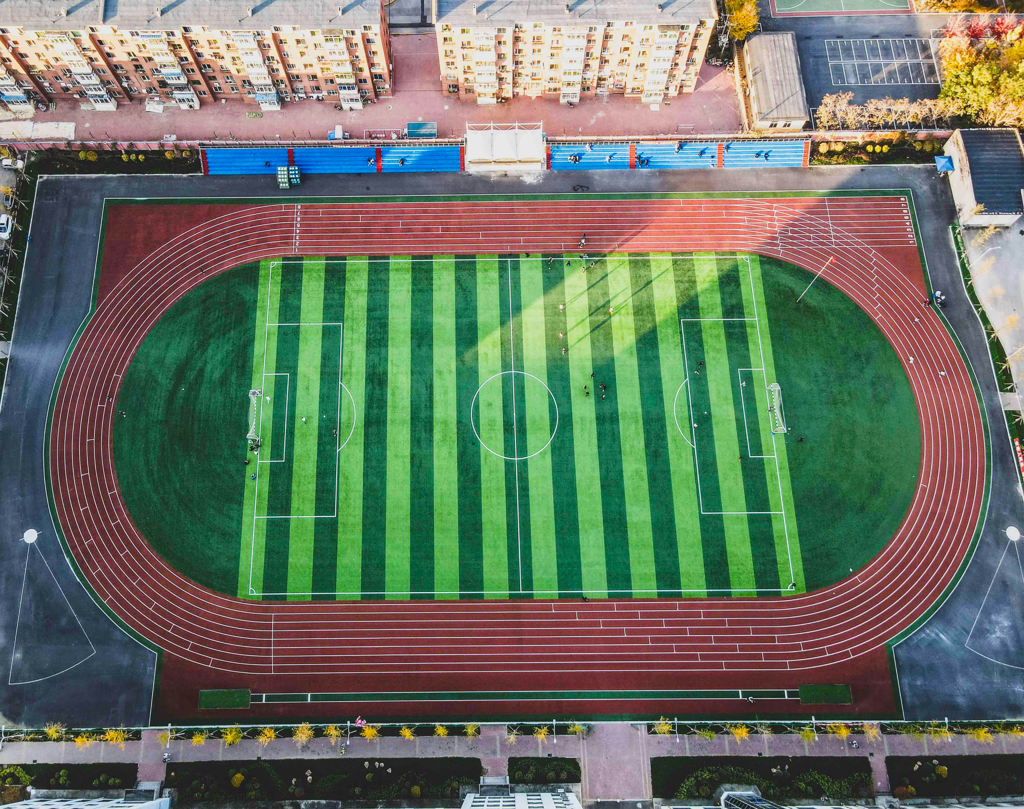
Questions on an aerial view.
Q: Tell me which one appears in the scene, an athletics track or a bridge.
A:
athletics track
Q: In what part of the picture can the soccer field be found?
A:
center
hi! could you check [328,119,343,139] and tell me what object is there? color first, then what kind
white vehicle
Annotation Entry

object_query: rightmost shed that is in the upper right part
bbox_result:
[944,127,1024,225]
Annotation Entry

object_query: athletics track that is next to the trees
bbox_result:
[49,189,989,728]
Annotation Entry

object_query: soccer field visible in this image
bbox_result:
[117,251,918,601]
